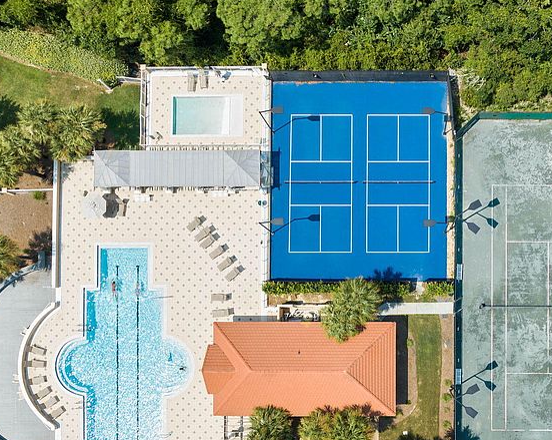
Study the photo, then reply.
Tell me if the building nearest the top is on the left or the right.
left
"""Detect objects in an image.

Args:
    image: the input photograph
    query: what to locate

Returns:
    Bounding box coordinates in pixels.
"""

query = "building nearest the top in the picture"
[93,149,266,192]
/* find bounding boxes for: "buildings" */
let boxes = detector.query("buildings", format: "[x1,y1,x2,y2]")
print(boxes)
[202,321,396,417]
[93,149,266,192]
